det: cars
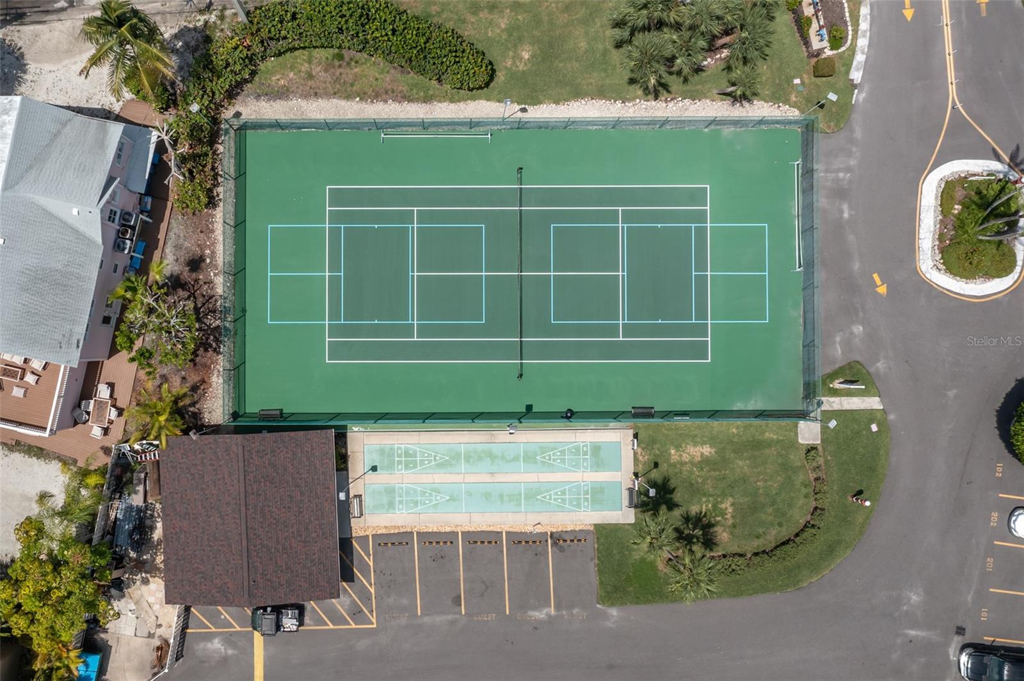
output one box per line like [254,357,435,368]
[1010,509,1024,539]
[960,649,1024,681]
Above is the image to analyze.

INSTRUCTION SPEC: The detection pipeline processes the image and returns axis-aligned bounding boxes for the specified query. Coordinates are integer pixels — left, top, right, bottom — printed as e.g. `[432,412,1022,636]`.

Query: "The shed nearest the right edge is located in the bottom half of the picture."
[160,429,340,607]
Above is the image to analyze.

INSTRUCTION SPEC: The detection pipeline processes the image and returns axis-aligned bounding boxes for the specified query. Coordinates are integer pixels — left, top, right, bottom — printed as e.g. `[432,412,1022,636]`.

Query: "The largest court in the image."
[235,128,803,431]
